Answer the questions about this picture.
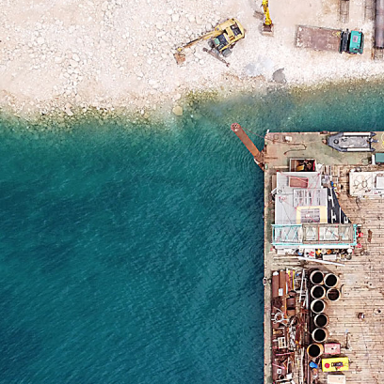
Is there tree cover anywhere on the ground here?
No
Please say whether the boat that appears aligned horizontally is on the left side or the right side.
right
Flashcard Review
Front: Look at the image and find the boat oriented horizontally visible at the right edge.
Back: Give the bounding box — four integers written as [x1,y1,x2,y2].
[326,133,372,153]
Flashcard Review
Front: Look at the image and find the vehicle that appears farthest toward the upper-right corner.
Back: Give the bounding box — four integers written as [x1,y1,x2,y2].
[295,26,364,56]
